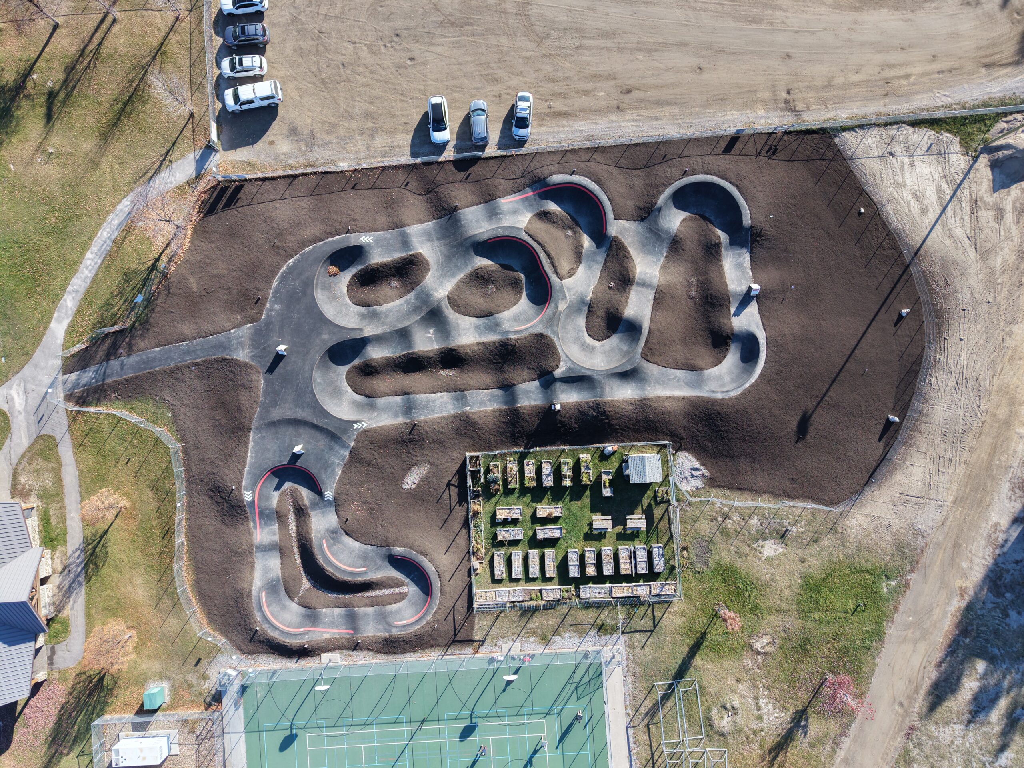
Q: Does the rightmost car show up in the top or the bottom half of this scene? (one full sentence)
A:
You can find the rightmost car in the top half.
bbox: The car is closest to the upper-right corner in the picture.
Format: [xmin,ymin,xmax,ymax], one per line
[511,89,534,140]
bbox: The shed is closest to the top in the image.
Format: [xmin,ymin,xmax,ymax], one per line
[626,453,661,484]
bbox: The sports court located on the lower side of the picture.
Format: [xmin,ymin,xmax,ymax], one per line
[241,649,608,768]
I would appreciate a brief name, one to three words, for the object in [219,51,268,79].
car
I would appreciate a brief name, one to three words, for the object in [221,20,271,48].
car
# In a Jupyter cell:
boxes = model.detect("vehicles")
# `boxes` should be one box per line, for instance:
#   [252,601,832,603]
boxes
[511,89,534,140]
[467,97,491,144]
[219,51,268,79]
[427,94,451,145]
[221,20,271,48]
[218,0,269,16]
[222,78,283,113]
